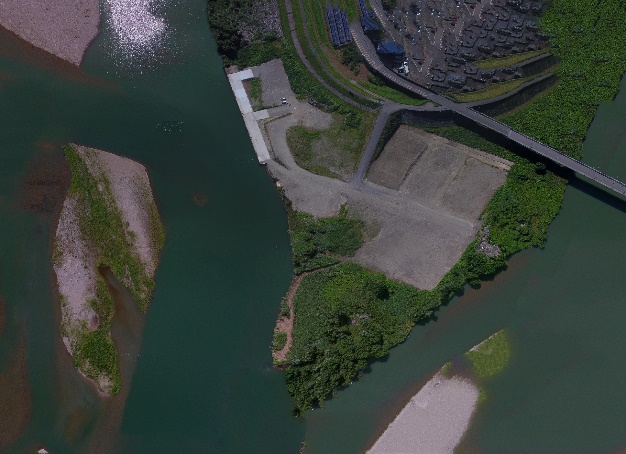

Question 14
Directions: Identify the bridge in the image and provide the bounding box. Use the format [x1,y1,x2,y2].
[444,101,626,196]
